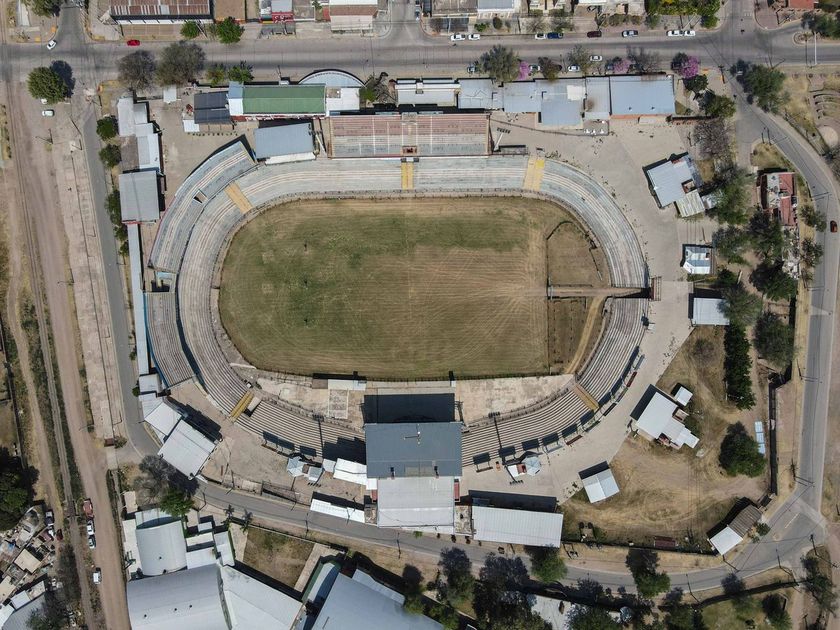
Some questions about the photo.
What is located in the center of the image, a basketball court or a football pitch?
football pitch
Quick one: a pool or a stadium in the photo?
stadium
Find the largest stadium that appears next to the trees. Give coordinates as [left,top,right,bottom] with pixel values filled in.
[144,112,660,531]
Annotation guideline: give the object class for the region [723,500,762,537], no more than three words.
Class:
barn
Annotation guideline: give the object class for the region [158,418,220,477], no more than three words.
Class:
building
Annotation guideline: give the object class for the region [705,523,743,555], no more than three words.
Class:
house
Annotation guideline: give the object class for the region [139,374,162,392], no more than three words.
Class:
building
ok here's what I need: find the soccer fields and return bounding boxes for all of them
[209,189,646,450]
